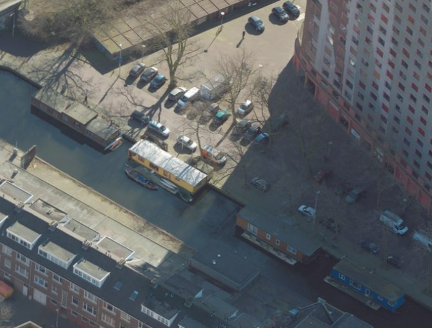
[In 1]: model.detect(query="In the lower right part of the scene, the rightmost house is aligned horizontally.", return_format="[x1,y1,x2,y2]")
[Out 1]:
[285,283,384,328]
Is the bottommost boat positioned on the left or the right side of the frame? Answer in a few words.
right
